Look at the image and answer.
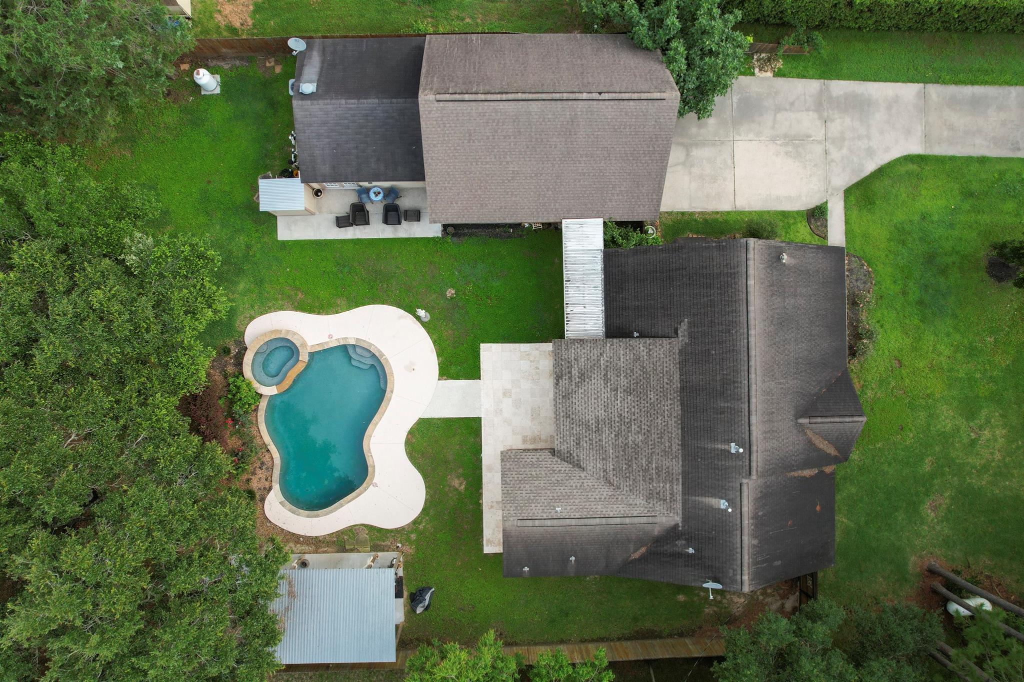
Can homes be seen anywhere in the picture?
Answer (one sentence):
Yes, a home can be made out from above.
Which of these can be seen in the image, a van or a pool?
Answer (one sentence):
I can see a pool in this picture.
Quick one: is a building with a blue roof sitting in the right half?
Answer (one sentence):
No, in the right half there is no building with a blue roof.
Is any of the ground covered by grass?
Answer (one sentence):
Yes, there is grass in the image.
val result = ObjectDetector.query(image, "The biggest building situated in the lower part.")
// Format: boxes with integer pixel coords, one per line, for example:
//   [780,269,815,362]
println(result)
[501,239,867,593]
